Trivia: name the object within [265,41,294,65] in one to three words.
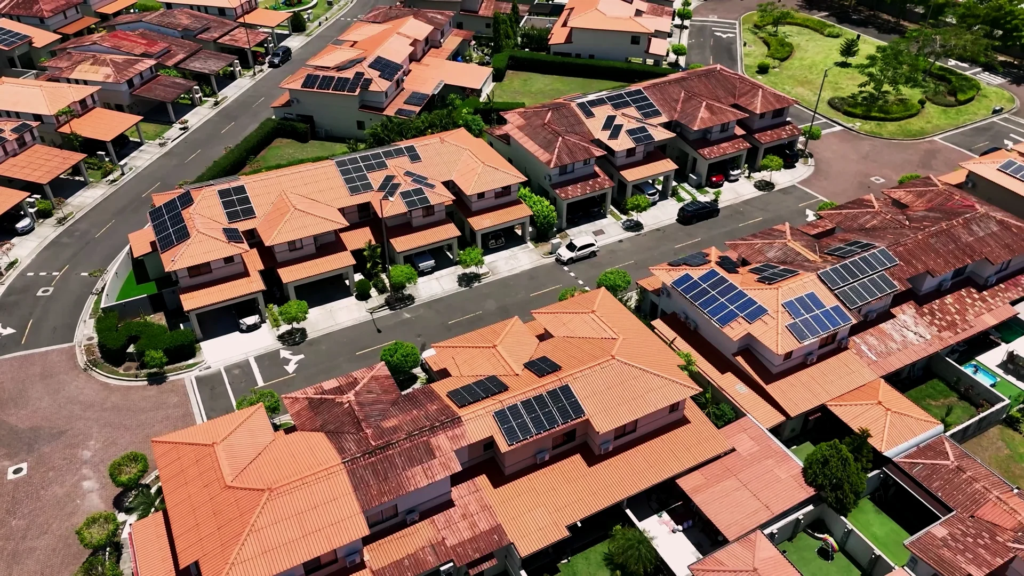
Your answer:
car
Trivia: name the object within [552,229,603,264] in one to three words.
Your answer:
car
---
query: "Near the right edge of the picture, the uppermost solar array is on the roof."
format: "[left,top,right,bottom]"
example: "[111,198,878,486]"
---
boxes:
[998,160,1024,180]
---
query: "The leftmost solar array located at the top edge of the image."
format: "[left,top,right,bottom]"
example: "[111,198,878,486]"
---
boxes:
[0,27,31,48]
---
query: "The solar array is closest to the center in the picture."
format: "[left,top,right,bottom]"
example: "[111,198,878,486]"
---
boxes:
[524,356,561,374]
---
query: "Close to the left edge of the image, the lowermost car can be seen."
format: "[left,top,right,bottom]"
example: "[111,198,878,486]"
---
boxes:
[0,208,43,234]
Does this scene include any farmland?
No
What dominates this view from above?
buildings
